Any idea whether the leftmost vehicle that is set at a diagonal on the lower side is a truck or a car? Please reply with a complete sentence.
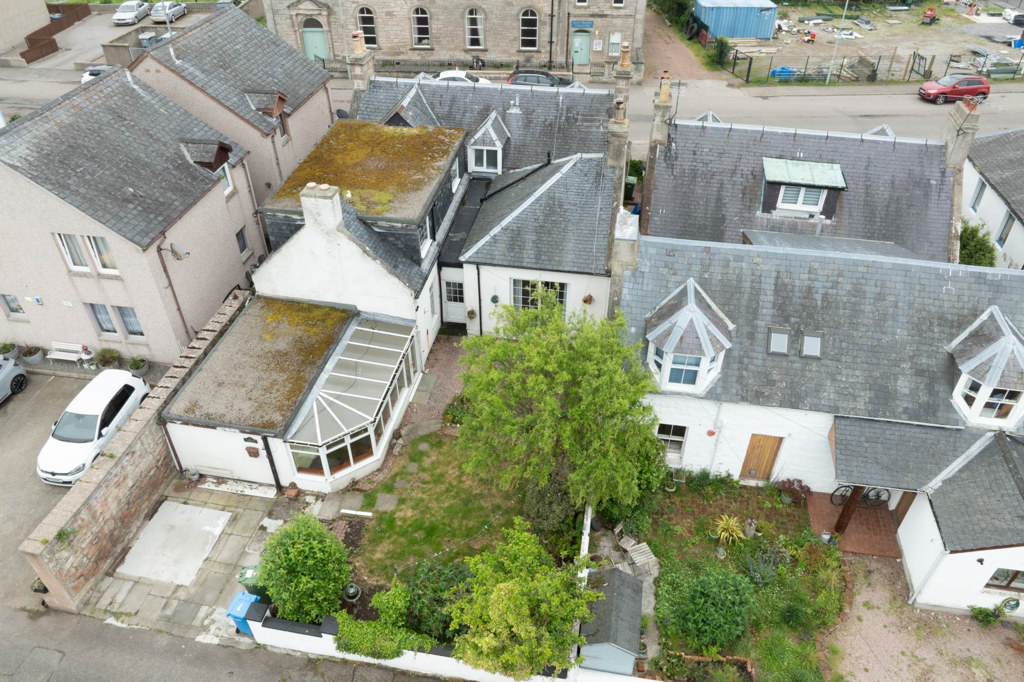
Specifically, the leftmost vehicle that is set at a diagonal on the lower side is a car.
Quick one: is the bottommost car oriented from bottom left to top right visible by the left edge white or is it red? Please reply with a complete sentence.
The color of the bottommost car oriented from bottom left to top right visible by the left edge is white.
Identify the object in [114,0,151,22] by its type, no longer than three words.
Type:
car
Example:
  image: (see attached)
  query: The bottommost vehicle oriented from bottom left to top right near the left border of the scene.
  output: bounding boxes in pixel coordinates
[28,364,154,478]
